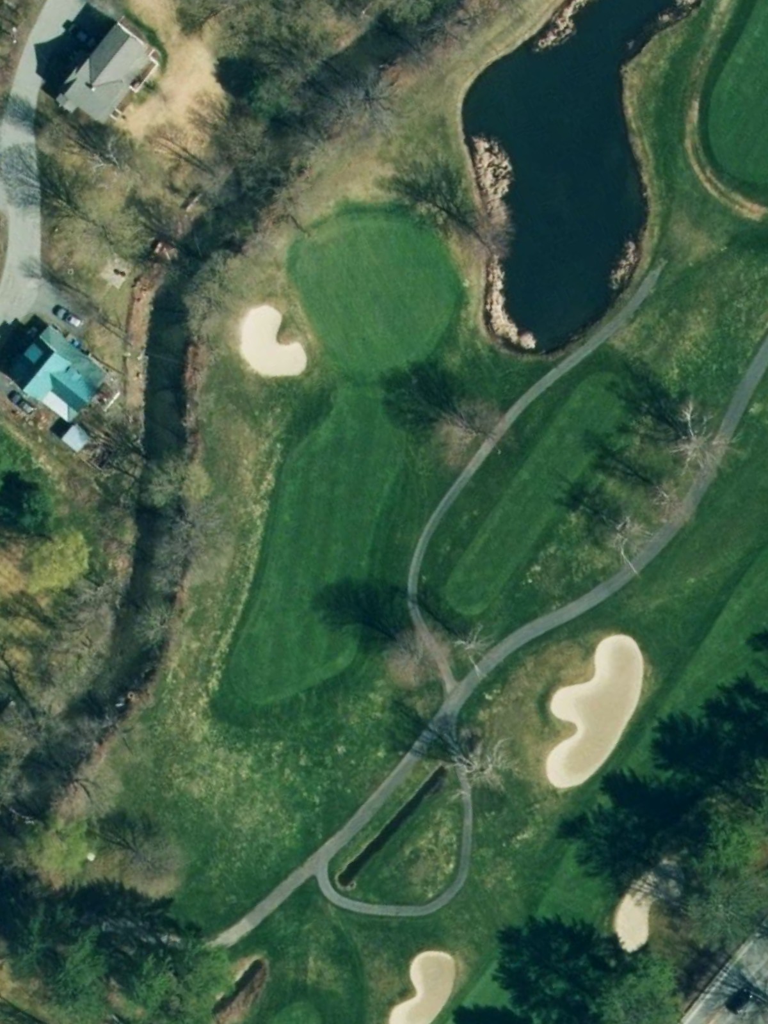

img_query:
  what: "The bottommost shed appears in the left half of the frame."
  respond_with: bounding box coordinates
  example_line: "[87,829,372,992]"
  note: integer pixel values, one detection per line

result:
[61,424,89,453]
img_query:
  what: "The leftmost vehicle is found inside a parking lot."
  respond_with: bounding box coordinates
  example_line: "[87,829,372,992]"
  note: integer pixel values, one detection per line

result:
[5,389,37,415]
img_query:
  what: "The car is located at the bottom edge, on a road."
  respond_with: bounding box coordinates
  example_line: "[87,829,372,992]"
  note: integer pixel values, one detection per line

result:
[727,986,755,1016]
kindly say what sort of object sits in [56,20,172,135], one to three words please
house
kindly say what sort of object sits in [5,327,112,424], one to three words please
house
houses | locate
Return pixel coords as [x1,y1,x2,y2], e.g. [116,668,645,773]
[56,20,172,135]
[5,327,112,424]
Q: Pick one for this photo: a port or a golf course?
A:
golf course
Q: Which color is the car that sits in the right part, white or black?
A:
black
